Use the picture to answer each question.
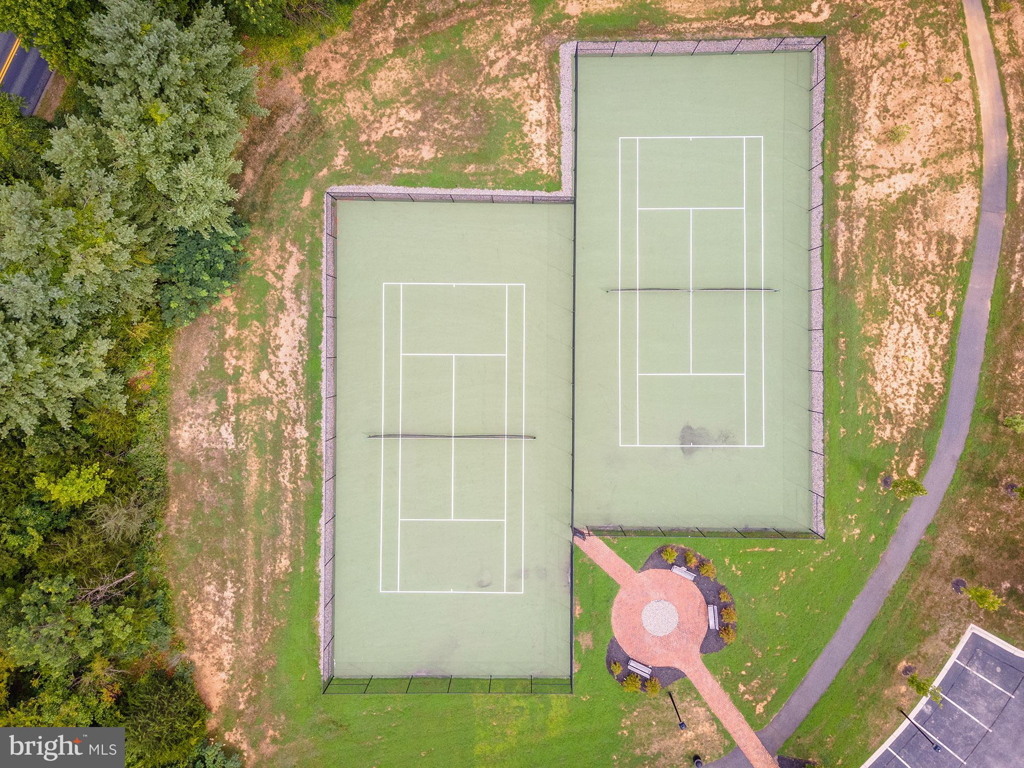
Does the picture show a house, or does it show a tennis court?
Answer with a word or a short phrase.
tennis court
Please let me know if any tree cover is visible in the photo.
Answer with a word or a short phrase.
Yes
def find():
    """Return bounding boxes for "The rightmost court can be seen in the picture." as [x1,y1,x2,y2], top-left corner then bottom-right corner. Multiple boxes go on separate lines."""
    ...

[570,49,813,532]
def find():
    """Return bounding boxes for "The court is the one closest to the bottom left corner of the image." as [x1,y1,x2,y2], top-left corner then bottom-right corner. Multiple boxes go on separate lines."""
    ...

[333,200,573,678]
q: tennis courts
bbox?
[333,200,573,678]
[570,49,813,532]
